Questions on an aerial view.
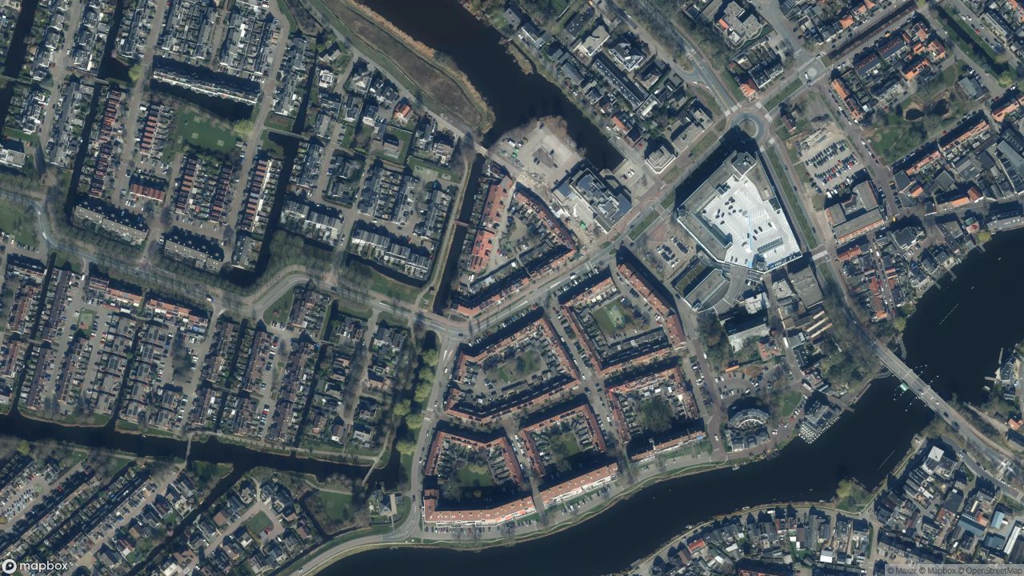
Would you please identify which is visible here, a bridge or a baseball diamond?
bridge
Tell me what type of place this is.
residential area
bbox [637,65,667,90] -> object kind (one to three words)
house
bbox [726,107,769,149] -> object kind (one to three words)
roundabout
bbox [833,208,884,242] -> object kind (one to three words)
building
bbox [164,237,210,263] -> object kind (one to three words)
building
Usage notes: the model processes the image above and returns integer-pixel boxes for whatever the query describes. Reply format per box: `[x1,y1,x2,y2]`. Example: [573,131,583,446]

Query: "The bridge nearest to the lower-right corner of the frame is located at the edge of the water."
[869,342,969,437]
